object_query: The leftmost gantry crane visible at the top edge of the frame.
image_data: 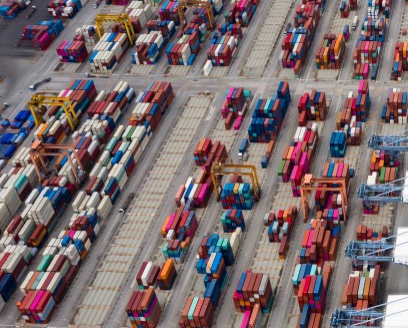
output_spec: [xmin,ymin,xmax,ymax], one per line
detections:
[93,4,135,40]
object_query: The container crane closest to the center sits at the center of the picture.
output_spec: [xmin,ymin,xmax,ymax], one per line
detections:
[209,153,260,200]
